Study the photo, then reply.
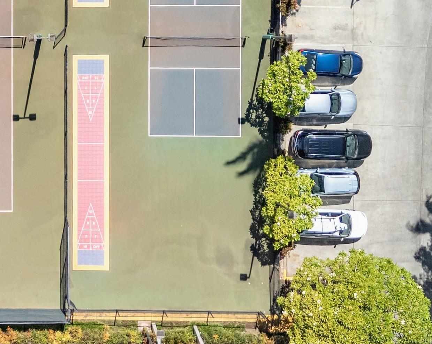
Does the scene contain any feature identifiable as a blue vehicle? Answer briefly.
Yes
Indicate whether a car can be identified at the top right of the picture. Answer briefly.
Yes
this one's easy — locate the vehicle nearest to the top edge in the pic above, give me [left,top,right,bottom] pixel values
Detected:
[296,47,362,81]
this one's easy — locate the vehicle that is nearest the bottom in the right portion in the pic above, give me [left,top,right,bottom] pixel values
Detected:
[294,209,366,244]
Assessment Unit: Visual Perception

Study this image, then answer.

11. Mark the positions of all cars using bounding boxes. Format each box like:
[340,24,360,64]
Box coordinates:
[291,167,359,201]
[294,209,366,244]
[293,128,370,163]
[287,85,358,119]
[296,47,362,81]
